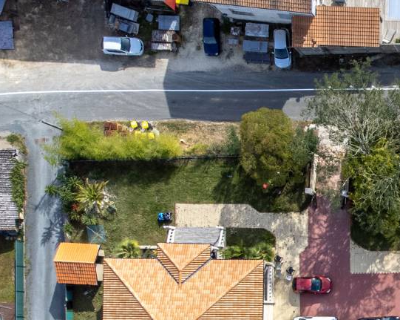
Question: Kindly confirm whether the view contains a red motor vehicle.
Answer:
Yes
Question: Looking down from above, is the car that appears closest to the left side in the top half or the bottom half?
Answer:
top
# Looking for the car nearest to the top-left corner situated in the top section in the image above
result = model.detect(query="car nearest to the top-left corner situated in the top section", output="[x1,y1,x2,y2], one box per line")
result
[102,34,146,57]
